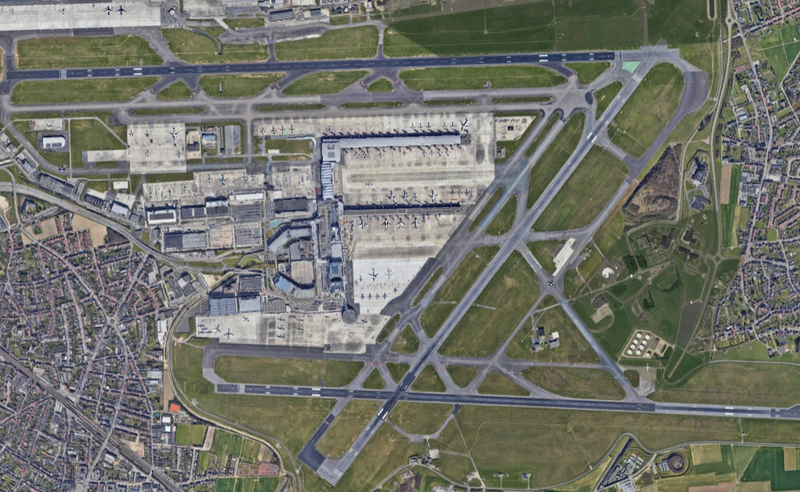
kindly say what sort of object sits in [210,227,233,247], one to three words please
building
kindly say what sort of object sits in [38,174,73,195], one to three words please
building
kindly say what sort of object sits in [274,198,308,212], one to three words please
hangar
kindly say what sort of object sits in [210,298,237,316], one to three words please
hangar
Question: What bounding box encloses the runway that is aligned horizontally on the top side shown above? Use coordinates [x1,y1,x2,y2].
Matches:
[7,48,679,80]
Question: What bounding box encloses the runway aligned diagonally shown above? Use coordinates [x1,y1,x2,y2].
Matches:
[330,55,655,480]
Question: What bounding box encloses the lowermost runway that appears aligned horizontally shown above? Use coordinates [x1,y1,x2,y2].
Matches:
[216,383,800,418]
